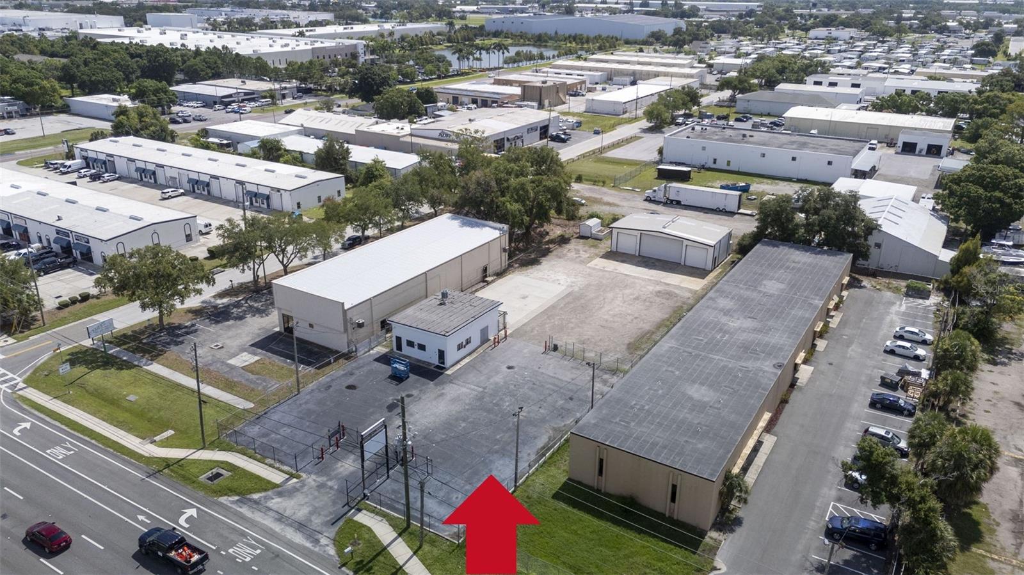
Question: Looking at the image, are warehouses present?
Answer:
Yes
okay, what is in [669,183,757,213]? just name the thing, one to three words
trailer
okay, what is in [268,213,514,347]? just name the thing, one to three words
warehouse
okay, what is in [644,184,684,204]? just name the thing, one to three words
vehicle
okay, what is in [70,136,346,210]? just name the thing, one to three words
building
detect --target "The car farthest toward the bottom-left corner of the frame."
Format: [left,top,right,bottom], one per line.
[24,522,73,555]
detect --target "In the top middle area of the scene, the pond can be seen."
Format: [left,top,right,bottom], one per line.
[437,45,608,70]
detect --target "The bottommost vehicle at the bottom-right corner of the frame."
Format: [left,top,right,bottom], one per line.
[825,514,893,551]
